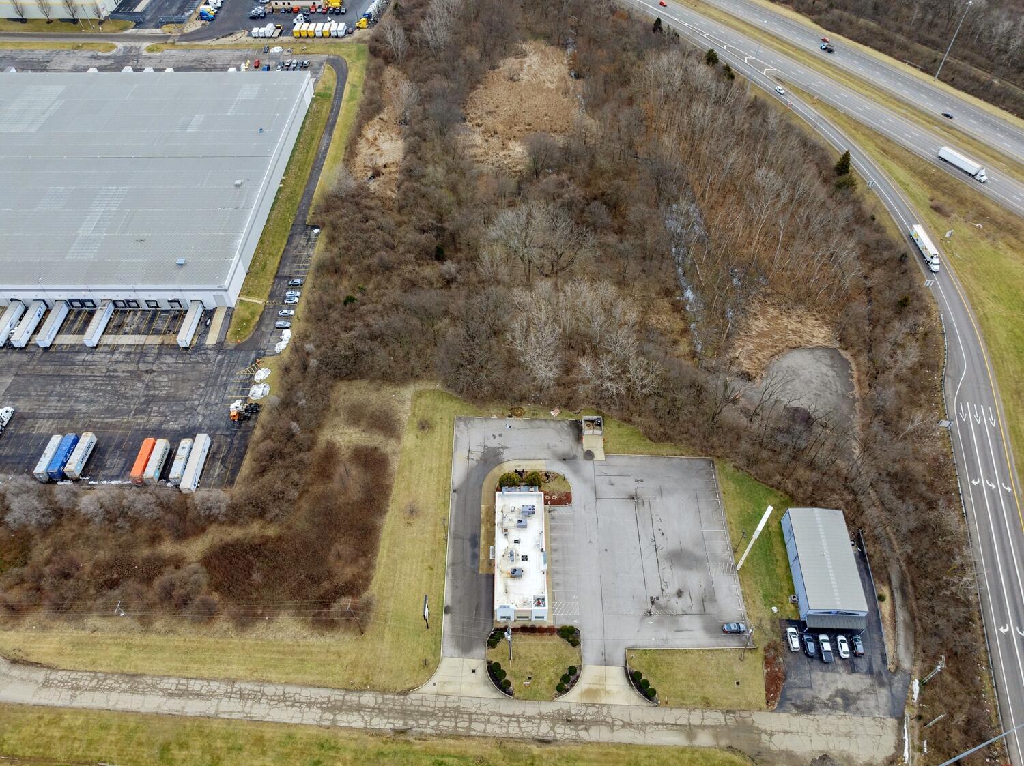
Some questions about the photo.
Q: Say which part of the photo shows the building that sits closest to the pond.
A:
bottom right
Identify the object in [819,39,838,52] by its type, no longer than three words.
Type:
vehicle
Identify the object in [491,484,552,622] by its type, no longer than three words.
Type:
building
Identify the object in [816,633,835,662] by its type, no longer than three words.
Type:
vehicle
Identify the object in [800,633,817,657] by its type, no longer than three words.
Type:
car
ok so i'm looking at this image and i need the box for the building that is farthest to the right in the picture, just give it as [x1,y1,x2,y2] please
[783,507,869,637]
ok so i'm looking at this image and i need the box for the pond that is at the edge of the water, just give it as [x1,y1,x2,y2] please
[736,347,857,458]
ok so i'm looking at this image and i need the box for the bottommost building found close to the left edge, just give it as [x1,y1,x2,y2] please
[0,74,313,308]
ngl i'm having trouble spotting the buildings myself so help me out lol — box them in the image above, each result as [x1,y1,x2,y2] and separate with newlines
[783,507,869,637]
[491,484,552,622]
[0,0,117,18]
[0,74,313,308]
[270,0,324,8]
